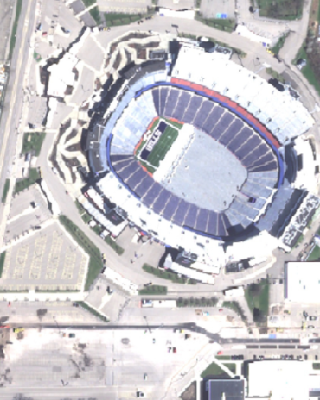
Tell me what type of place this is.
sports ground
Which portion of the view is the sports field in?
center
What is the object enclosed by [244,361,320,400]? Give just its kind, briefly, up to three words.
building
